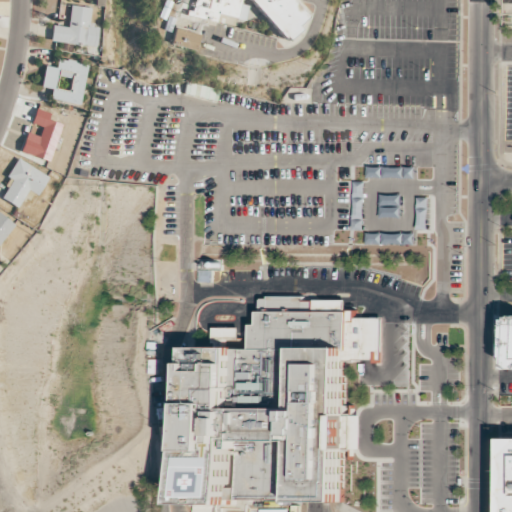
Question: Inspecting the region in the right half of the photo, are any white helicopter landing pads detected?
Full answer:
No, looking in the right half of the photo, there is no white helicopter landing pad.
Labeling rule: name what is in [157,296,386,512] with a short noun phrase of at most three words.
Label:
building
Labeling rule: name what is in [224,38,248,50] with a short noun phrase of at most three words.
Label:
vehicle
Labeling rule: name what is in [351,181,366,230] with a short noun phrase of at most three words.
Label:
building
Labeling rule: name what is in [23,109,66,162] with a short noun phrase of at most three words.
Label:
house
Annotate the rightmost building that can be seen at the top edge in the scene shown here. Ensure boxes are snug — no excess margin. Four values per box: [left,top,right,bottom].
[255,0,319,40]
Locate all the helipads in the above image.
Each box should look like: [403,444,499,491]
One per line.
[164,458,206,498]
